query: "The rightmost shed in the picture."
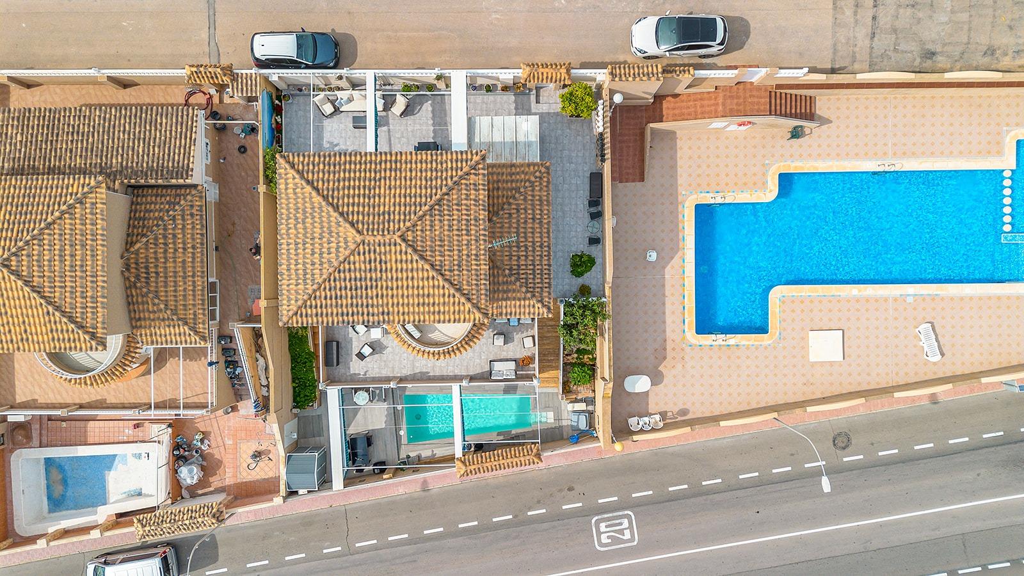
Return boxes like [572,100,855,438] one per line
[606,64,734,106]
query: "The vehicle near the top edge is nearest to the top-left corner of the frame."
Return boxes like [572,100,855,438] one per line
[246,25,342,68]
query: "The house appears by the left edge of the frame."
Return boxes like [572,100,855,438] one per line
[0,105,235,391]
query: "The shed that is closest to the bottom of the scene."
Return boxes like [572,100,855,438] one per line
[285,446,328,490]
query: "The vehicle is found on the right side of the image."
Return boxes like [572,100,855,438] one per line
[630,10,732,64]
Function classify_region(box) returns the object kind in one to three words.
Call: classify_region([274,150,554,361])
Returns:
house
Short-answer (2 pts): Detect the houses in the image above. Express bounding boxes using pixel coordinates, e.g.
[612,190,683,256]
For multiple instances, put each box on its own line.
[274,150,554,361]
[0,105,235,391]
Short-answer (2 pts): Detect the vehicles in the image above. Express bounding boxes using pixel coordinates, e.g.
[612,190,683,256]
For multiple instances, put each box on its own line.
[630,10,732,64]
[79,544,180,576]
[246,25,342,68]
